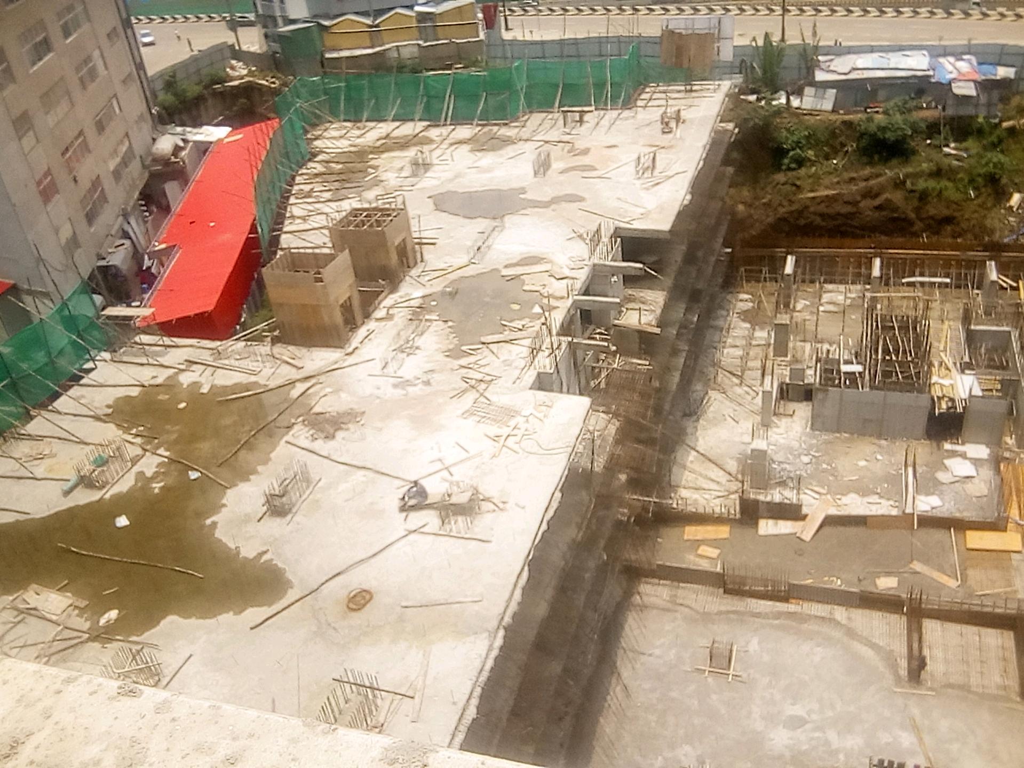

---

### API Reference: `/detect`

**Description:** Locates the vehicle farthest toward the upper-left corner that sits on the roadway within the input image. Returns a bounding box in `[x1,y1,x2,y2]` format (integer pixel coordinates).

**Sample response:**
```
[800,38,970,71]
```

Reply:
[138,32,154,47]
